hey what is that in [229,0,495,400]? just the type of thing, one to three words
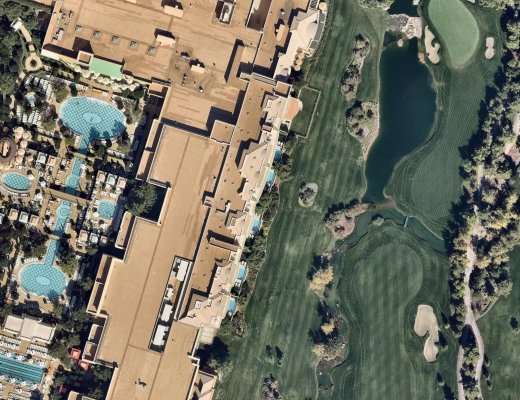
golf course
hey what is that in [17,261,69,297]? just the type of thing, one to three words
swimming pool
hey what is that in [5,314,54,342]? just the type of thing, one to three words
building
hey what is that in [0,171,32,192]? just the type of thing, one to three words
swimming pool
